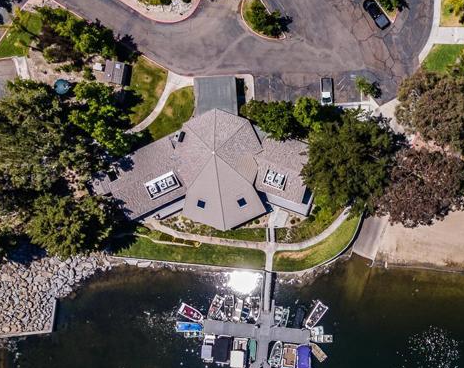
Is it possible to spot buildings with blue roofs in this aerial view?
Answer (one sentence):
No, no building with a blue roof is visible in the scene.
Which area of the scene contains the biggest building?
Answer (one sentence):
Look in the center portion of the view to spot the biggest building.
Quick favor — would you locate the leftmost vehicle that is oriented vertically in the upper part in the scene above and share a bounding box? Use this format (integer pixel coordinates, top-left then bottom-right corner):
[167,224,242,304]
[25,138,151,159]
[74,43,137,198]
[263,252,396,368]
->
[319,74,333,107]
